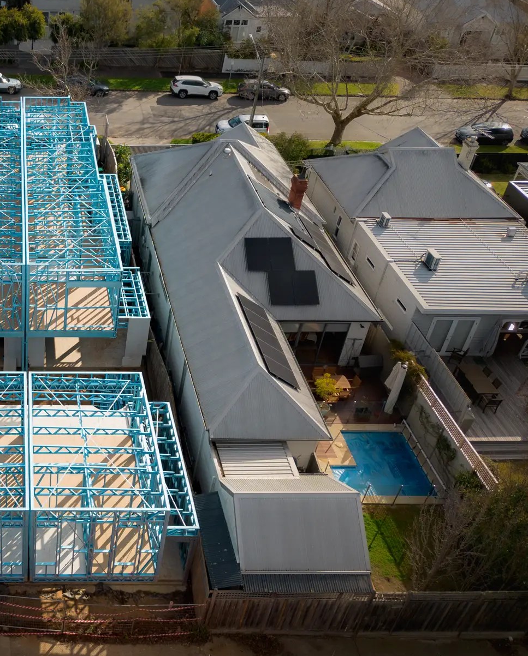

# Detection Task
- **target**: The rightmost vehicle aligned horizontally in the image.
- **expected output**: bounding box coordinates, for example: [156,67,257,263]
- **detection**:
[446,115,520,144]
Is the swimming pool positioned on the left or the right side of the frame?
right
